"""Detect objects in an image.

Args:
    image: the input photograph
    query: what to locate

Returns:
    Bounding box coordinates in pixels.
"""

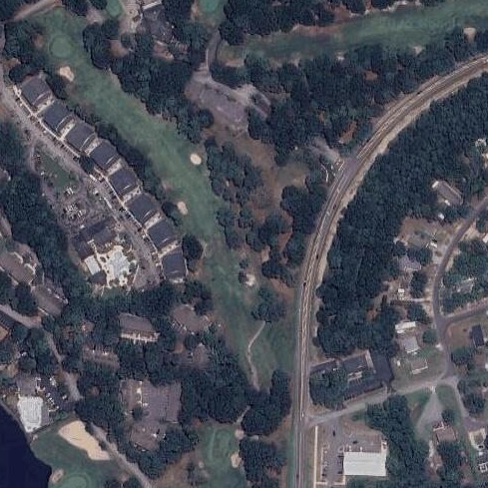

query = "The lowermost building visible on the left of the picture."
[129,424,161,451]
